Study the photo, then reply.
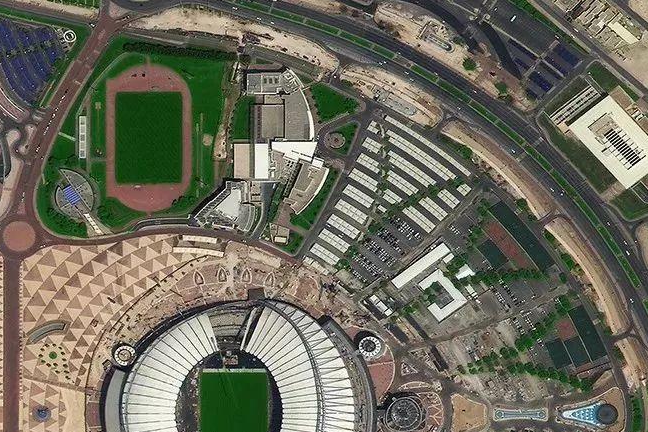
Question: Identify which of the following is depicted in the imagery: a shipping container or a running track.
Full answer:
The one in the frame is a running track.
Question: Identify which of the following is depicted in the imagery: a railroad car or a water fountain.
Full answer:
There is a water fountain in the scene.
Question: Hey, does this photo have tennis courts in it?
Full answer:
Yes, the picture does show a tennis court.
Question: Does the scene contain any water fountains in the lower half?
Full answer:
Yes, a water fountain shows up in the lower half.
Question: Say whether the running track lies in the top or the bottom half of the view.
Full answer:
Seen from above, the running track lies in the top half of the view.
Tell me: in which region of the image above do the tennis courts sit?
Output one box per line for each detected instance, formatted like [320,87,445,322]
[546,338,573,369]
[483,220,538,270]
[564,337,591,368]
[557,317,578,341]
[478,240,508,270]
[488,201,554,272]
[568,305,607,362]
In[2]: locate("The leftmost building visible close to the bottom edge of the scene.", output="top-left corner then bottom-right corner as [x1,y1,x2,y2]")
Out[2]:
[386,396,424,432]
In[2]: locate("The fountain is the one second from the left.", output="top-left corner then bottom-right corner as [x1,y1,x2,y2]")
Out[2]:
[493,408,549,421]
